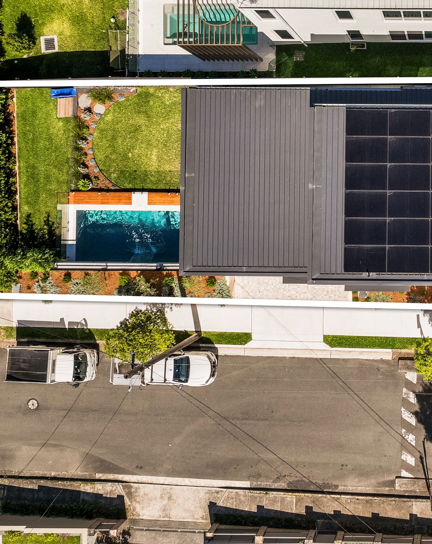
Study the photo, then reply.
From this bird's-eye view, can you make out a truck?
Yes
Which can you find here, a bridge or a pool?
pool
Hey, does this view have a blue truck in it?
No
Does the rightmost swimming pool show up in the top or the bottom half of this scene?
top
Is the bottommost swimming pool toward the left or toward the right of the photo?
left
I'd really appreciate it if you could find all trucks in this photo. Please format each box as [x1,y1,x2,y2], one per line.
[9,339,101,386]
[111,346,220,391]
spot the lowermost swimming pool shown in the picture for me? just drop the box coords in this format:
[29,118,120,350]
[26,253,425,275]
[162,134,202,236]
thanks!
[77,211,180,263]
